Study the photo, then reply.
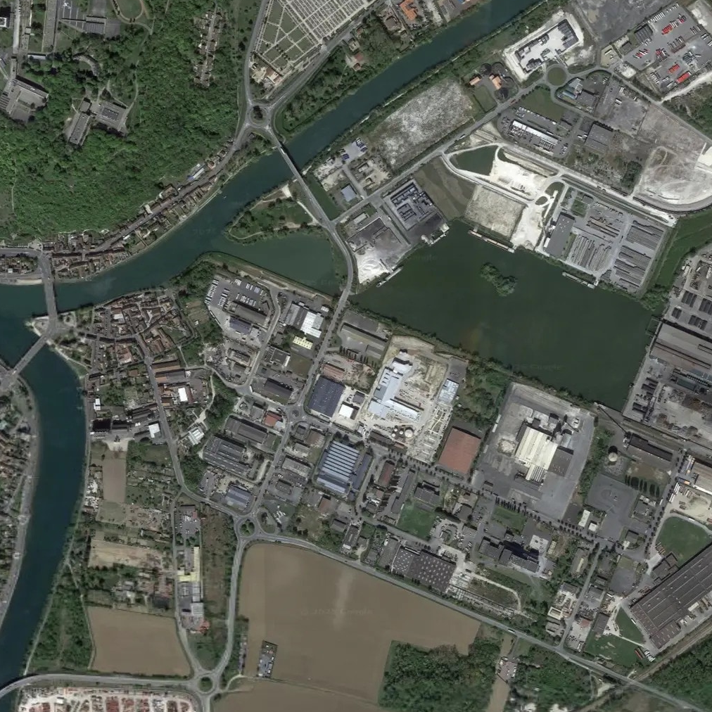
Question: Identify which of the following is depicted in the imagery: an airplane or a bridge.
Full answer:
The one in the frame is a bridge.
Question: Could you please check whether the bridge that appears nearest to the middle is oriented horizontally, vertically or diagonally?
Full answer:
Seen from above, the bridge that appears nearest to the middle lies diagonally.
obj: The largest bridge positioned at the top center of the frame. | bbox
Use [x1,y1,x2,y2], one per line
[272,136,327,214]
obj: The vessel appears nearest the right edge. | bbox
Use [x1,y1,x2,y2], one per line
[563,274,594,289]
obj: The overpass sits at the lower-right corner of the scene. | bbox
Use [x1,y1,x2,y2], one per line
[591,665,676,704]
